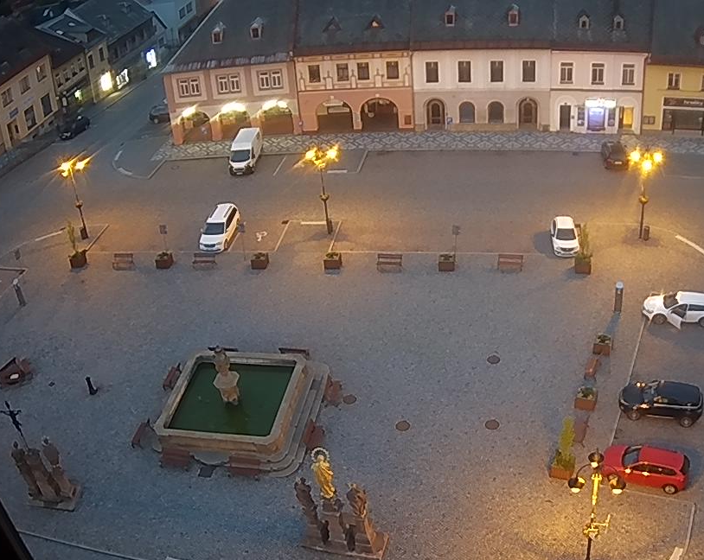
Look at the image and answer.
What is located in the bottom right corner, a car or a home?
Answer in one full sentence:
There is a car in the bottom right corner.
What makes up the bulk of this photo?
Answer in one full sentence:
The scene is dominated by paved ground.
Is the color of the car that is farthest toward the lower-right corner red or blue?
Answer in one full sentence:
The car that is farthest toward the lower-right corner looks red in the image.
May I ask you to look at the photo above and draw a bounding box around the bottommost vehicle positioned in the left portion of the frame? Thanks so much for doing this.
[195,202,242,252]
